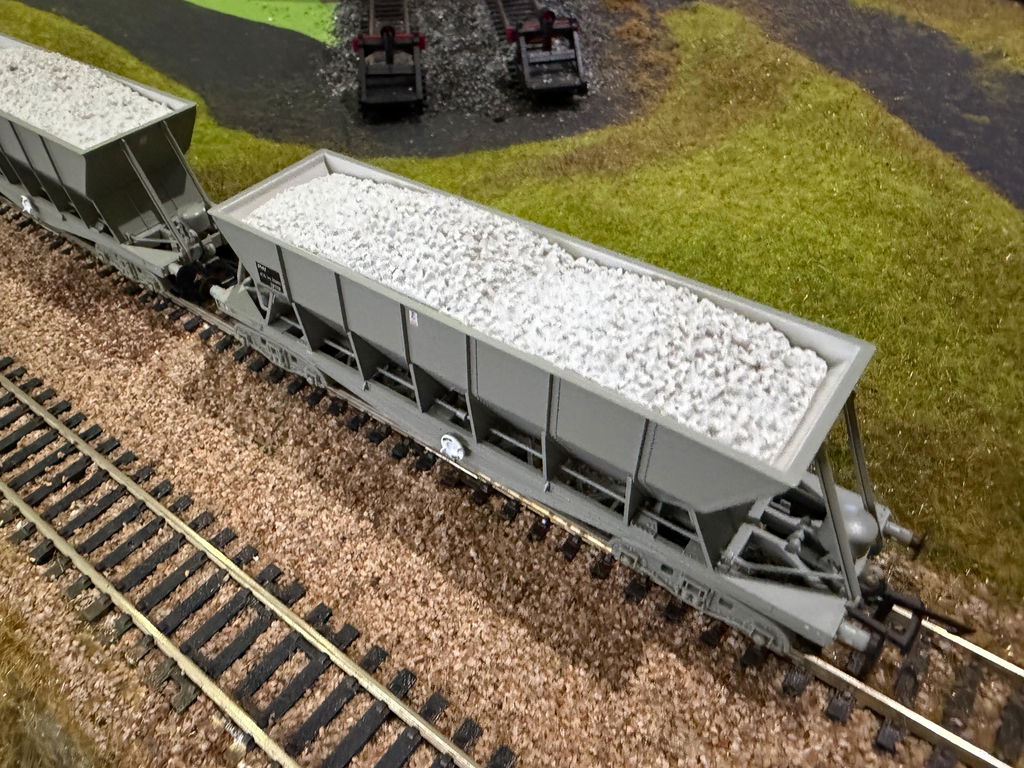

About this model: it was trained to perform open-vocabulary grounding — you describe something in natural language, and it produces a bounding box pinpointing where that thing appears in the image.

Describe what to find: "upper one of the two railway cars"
[0,27,245,301]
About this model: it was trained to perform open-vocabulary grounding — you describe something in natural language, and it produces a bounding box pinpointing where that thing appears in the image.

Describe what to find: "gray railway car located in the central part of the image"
[207,151,980,669]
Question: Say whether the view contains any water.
No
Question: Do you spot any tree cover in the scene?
No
